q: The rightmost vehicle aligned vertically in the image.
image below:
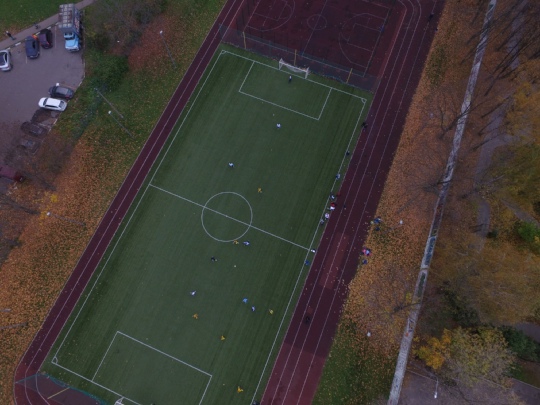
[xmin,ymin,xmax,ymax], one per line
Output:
[59,9,84,55]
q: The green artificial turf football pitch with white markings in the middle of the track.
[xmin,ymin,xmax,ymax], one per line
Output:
[38,42,374,405]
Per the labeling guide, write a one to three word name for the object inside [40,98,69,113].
car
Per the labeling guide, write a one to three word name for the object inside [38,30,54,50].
car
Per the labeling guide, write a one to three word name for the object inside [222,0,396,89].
basketball court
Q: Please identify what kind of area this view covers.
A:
sports ground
